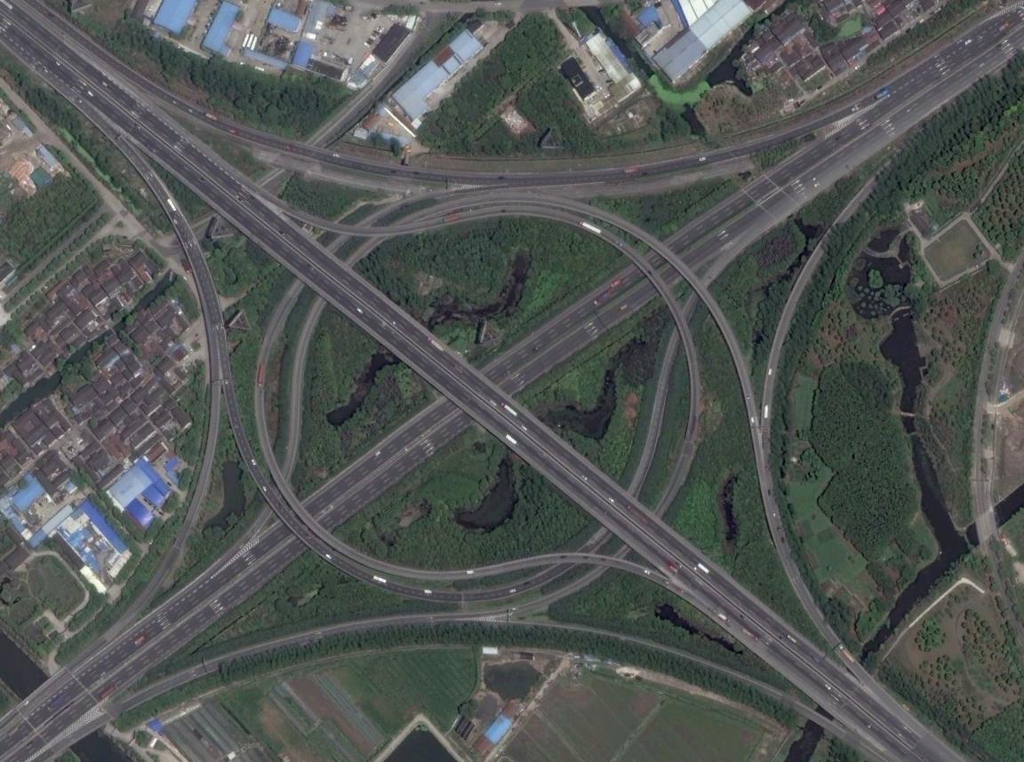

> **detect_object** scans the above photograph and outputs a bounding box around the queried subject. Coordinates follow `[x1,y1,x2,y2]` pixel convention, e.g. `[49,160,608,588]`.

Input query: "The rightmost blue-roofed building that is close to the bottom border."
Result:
[485,715,512,744]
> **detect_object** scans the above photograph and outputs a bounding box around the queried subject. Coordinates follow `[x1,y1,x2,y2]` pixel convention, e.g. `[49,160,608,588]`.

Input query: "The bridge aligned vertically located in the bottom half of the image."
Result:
[974,499,997,559]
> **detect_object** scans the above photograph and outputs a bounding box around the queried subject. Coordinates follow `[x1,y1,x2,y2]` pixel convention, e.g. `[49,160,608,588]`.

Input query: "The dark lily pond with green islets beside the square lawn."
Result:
[847,230,912,319]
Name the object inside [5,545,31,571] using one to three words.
house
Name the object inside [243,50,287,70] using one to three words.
building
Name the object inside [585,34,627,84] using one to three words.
building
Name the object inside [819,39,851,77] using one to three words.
house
